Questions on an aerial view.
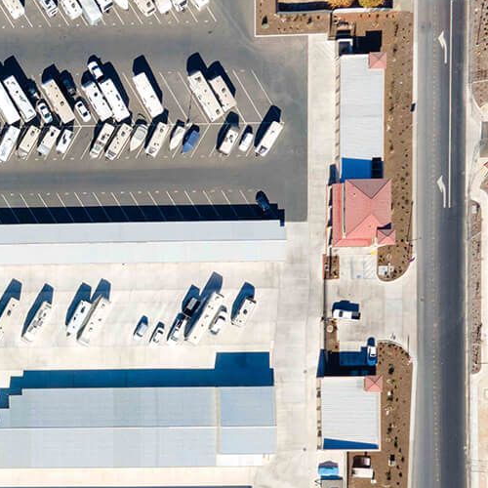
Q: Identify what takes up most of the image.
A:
paved ground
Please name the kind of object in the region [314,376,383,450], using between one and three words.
building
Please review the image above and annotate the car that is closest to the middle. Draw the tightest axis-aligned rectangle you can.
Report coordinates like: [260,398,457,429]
[254,193,271,212]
